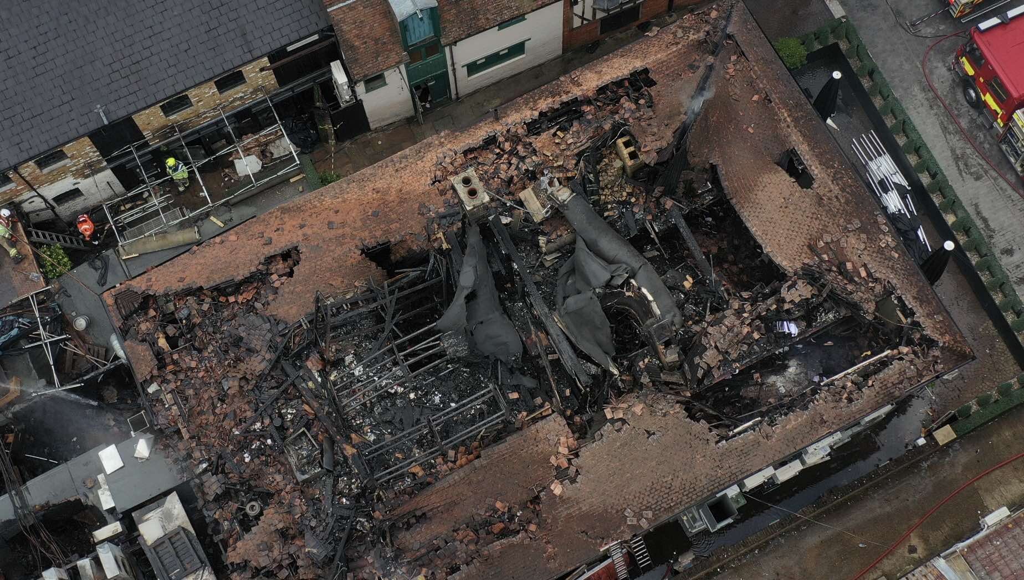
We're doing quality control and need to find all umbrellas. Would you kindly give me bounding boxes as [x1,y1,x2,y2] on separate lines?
[811,70,841,123]
[925,241,953,285]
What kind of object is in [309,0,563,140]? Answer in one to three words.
building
